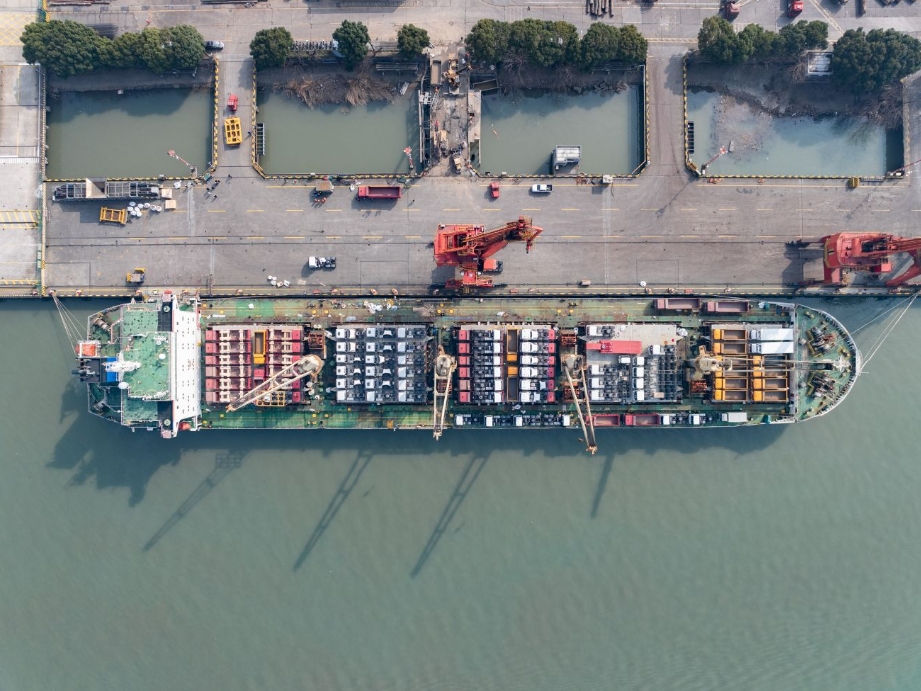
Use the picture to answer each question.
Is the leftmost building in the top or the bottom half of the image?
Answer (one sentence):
The leftmost building is in the top half of the image.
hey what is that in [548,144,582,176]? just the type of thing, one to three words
building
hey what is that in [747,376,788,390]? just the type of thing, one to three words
vehicle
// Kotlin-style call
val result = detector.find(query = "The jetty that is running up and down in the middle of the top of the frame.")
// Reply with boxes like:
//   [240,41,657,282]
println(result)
[468,91,480,166]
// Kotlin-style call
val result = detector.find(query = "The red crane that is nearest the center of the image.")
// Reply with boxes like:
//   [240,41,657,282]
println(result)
[434,218,543,287]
